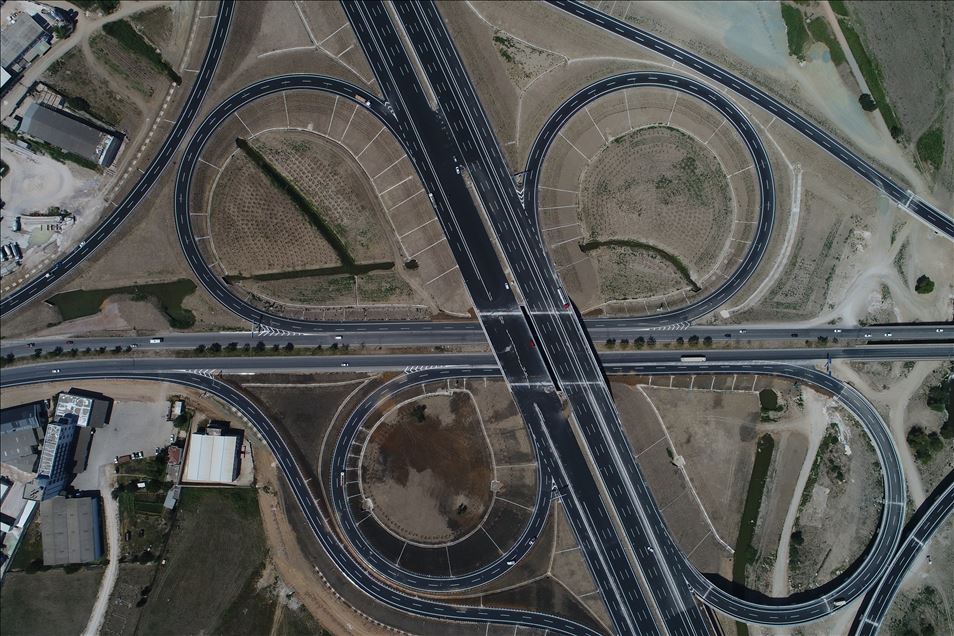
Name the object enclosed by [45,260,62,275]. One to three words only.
vehicle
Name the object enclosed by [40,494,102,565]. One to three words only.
hangar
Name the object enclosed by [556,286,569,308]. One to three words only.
vehicle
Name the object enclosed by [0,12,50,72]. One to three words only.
building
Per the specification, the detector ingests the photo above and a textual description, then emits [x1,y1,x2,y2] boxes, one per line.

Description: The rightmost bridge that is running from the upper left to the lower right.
[900,192,954,242]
